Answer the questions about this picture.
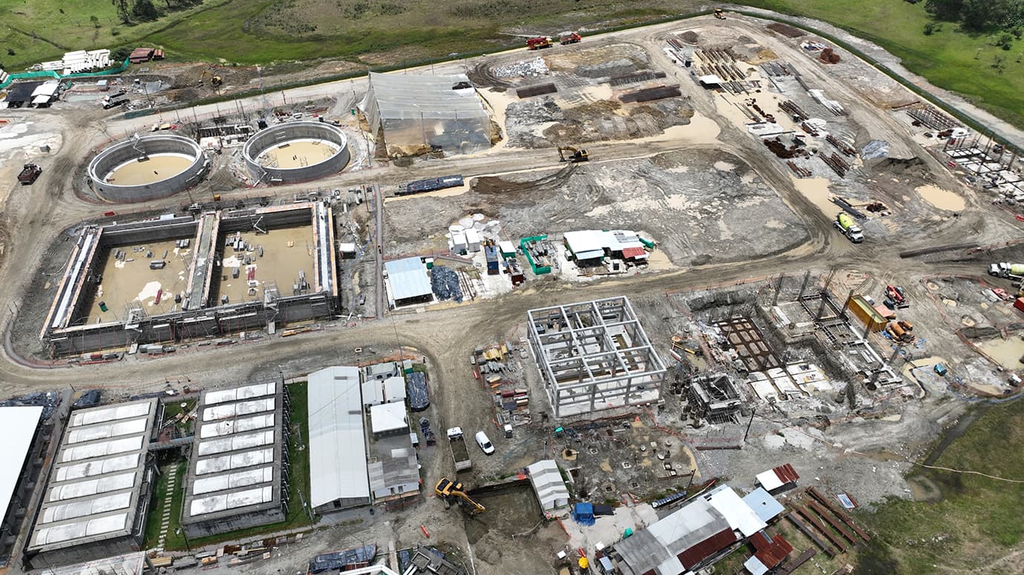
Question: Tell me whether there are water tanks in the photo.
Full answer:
Yes, a water tank is visible in the scene.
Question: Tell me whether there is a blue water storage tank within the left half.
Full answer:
No, within the left half there is no blue water storage tank.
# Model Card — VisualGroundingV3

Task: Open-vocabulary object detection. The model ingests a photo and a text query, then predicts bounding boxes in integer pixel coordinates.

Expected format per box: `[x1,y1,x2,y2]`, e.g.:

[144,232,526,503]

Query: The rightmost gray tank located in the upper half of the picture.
[240,121,349,185]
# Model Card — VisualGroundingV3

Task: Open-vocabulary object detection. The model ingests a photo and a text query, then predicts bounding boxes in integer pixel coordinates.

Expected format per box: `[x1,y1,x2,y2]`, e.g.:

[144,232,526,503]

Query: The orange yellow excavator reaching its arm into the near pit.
[431,474,485,515]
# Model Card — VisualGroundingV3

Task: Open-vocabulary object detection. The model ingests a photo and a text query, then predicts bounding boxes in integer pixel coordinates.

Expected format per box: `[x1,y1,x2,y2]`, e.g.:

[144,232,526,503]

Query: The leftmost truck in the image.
[10,158,45,181]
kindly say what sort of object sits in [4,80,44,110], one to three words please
shed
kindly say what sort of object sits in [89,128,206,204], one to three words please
water tank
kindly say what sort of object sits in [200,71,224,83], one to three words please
vehicle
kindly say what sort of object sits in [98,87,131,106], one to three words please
vehicle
